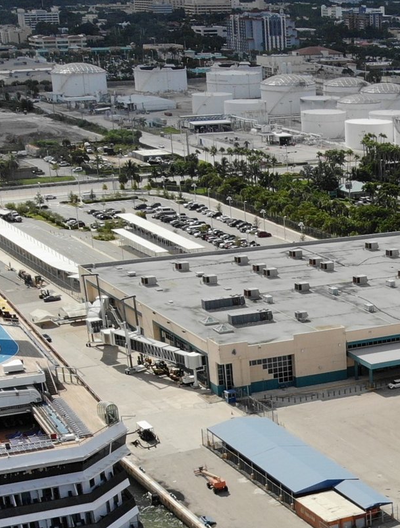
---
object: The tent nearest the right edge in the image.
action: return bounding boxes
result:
[49,304,89,326]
